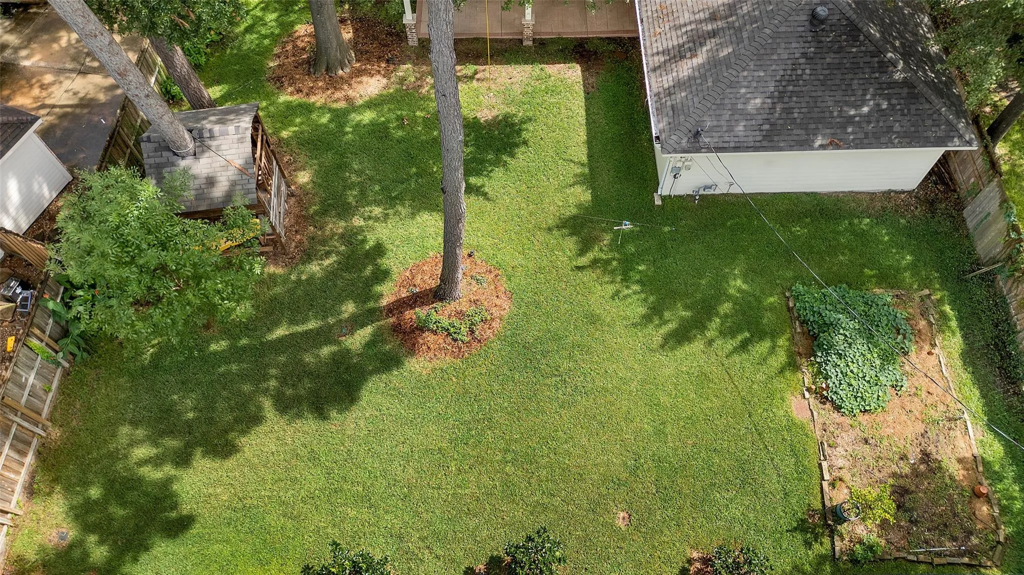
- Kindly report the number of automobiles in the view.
0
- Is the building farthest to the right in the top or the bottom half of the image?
top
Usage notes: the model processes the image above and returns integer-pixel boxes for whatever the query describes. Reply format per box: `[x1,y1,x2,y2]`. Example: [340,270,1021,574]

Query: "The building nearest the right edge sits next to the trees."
[631,0,983,198]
